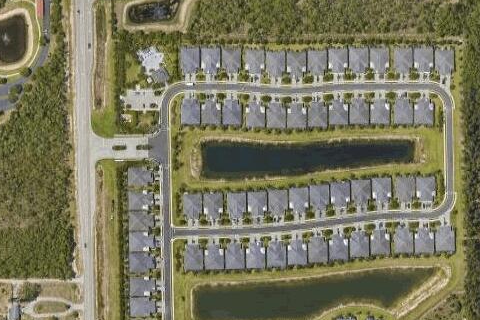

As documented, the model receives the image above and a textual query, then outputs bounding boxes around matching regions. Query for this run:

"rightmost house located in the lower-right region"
[436,227,455,253]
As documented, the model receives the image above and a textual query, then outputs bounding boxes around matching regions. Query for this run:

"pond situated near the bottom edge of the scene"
[193,267,439,320]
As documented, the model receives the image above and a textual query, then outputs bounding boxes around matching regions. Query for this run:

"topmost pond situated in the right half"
[201,139,416,179]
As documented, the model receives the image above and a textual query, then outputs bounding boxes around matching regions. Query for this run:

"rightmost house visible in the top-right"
[436,50,455,75]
